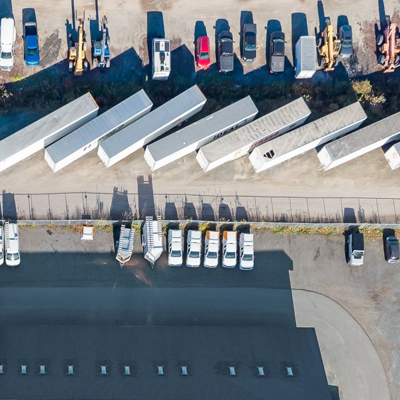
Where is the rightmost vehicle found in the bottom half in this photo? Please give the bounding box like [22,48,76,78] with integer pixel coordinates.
[382,234,400,266]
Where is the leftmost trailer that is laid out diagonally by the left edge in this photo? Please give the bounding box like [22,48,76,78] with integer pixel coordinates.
[0,92,98,171]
